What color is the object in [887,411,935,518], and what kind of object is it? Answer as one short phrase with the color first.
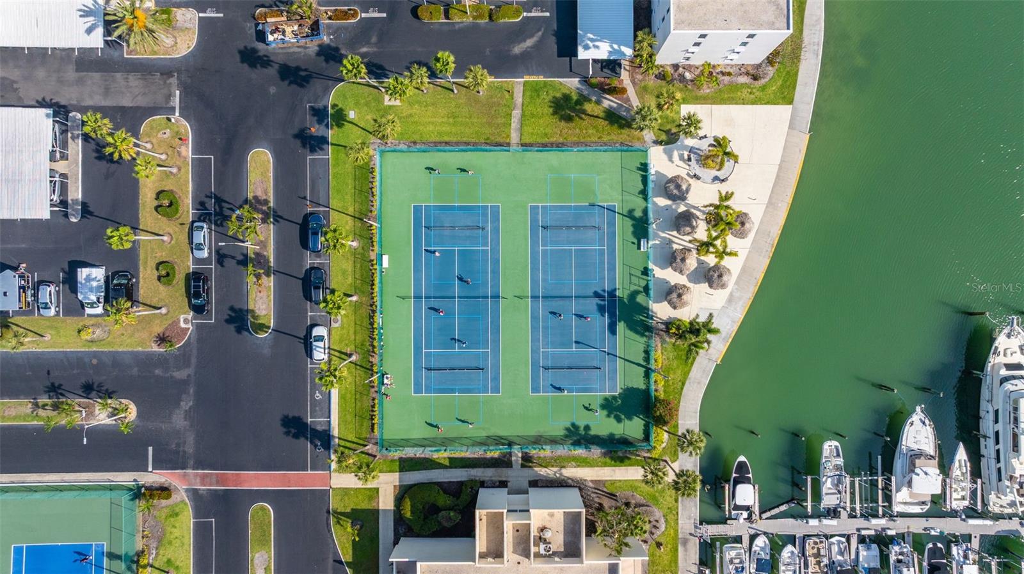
white boat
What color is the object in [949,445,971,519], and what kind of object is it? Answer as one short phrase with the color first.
white boat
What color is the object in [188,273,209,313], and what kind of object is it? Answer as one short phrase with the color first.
black car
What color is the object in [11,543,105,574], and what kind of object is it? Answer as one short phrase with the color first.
blue tennis court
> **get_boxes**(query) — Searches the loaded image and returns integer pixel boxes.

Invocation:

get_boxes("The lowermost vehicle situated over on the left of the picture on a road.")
[309,325,328,362]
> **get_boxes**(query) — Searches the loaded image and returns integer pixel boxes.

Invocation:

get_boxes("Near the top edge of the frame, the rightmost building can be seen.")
[652,0,794,62]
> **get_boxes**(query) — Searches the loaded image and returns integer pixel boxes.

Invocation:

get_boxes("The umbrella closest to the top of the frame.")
[663,175,690,202]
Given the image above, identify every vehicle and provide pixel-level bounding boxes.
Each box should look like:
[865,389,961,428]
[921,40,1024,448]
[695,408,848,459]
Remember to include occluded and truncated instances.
[191,220,209,259]
[107,270,130,313]
[53,168,64,205]
[75,269,106,316]
[306,213,325,252]
[188,273,209,313]
[309,325,328,362]
[53,122,64,160]
[307,266,325,304]
[35,280,57,317]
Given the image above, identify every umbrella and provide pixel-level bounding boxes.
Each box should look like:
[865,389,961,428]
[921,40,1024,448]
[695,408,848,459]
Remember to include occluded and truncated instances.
[705,264,730,290]
[674,210,699,236]
[663,175,690,202]
[669,248,696,275]
[731,213,754,238]
[666,283,691,309]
